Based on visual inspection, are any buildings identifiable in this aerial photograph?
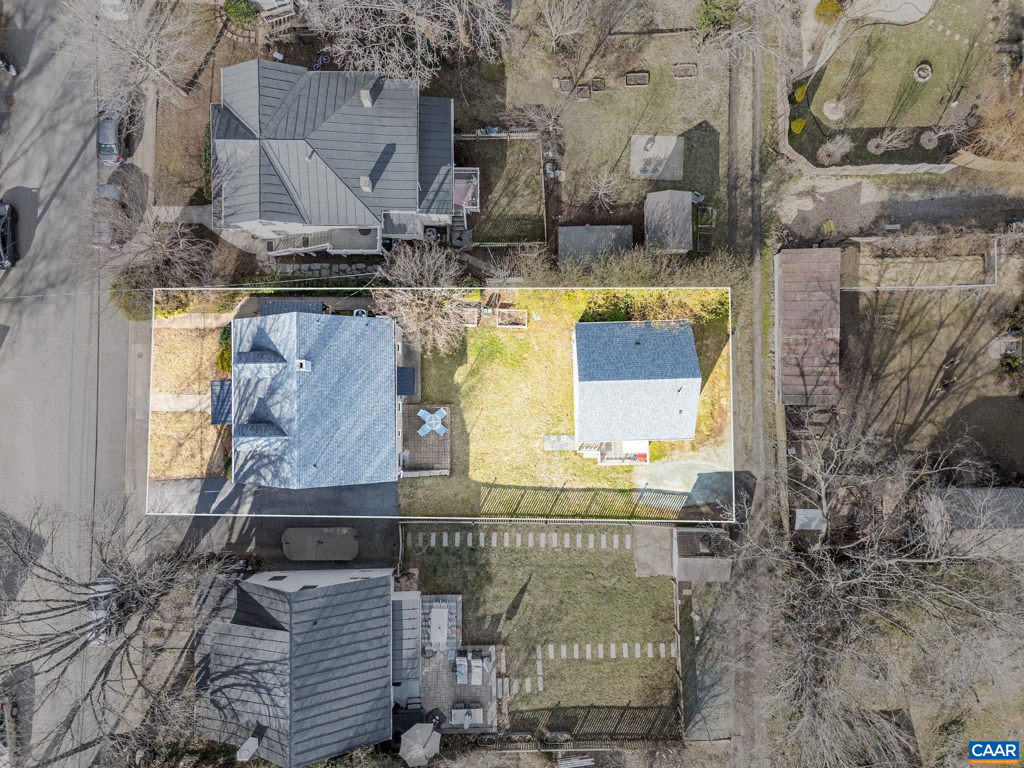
Yes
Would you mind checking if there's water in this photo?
No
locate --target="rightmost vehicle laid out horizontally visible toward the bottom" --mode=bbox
[278,522,361,559]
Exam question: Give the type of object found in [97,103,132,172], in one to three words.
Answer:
car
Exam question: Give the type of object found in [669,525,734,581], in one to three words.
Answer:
building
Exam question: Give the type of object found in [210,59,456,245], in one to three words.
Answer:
house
